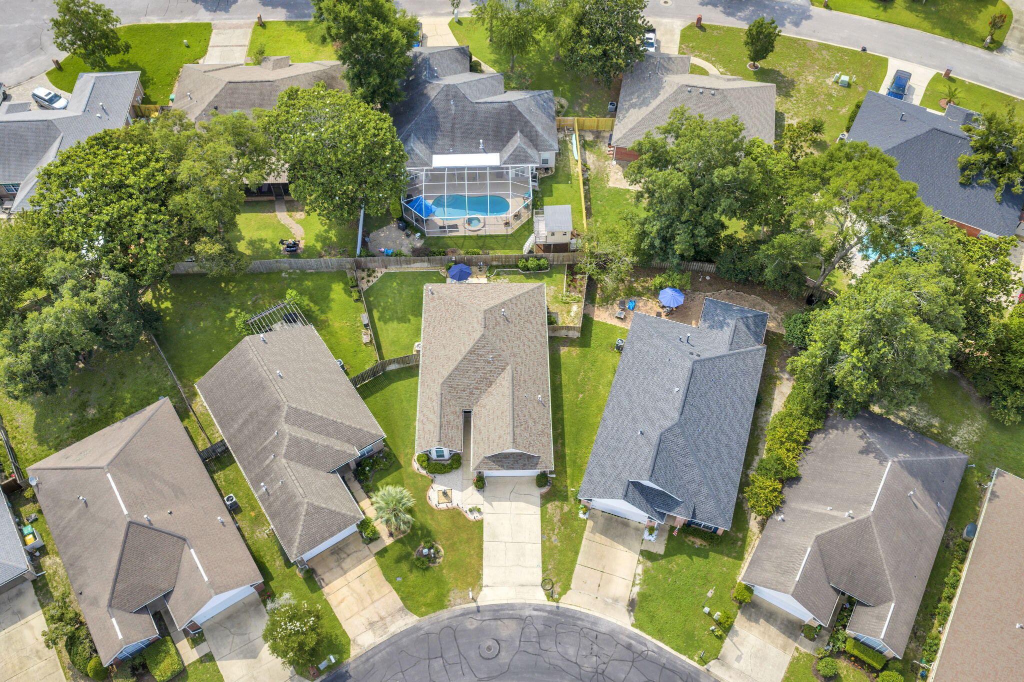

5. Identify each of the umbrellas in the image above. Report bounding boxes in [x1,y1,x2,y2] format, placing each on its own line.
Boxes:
[449,265,472,283]
[657,288,684,310]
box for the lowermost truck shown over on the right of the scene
[892,70,915,104]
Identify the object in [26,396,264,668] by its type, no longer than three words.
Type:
house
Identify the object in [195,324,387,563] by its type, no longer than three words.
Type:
house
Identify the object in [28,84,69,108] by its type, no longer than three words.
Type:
car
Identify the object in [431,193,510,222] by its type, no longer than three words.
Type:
swimming pool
